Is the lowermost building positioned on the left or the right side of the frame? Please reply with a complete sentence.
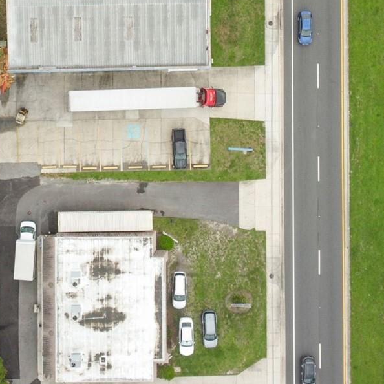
You can find the lowermost building on the left side of the picture.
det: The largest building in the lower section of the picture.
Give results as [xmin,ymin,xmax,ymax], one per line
[32,231,168,382]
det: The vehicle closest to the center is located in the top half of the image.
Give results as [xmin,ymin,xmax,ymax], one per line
[171,127,190,169]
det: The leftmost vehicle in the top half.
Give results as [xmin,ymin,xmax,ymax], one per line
[15,106,30,125]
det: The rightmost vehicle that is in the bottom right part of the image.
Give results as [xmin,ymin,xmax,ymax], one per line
[299,355,318,384]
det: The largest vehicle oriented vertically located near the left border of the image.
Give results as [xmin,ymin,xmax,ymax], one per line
[13,219,36,282]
